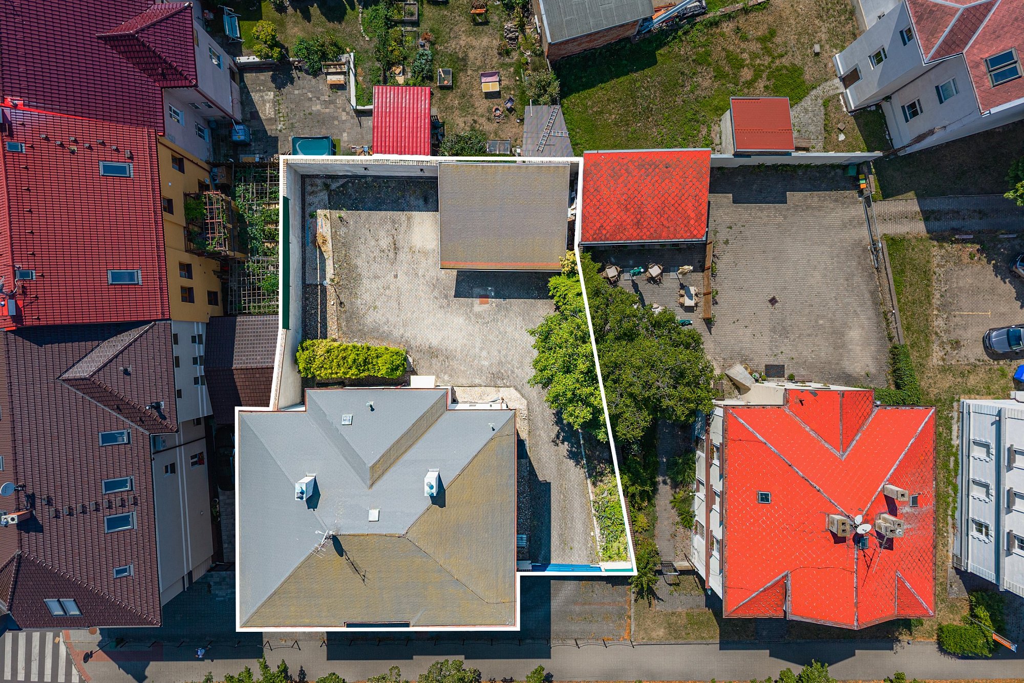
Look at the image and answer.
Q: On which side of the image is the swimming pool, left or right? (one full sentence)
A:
The swimming pool sits on the left side.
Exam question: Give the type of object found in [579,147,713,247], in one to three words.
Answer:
building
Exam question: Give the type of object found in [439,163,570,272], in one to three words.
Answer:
building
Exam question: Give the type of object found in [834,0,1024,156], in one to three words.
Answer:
house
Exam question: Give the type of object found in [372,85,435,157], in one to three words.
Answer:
shed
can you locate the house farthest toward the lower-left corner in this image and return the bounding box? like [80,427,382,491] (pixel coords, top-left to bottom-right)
[0,323,215,629]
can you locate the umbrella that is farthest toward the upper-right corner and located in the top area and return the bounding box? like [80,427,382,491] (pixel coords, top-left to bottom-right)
[670,267,694,279]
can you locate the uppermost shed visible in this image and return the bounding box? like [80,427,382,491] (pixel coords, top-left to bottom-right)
[537,0,656,57]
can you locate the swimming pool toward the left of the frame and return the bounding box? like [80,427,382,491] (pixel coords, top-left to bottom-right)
[291,136,337,157]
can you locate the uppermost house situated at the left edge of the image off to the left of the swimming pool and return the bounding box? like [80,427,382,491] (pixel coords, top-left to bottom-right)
[0,0,240,163]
